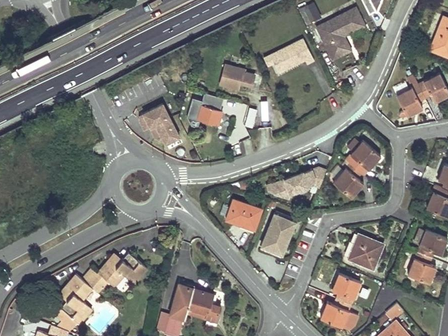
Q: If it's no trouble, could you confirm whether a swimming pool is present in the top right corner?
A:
No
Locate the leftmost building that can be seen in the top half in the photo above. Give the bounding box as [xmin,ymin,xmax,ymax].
[139,105,181,146]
